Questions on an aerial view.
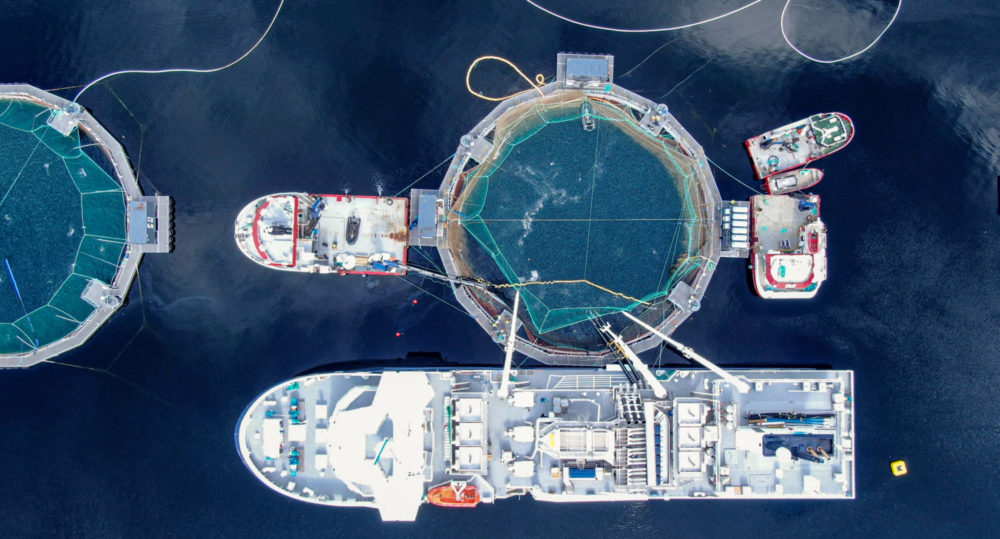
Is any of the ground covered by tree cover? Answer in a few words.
No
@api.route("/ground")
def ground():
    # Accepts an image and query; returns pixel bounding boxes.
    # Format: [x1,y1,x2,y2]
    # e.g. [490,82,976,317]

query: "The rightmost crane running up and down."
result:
[495,288,519,401]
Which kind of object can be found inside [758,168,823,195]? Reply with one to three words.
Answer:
boat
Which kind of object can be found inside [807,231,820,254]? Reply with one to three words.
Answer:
boat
